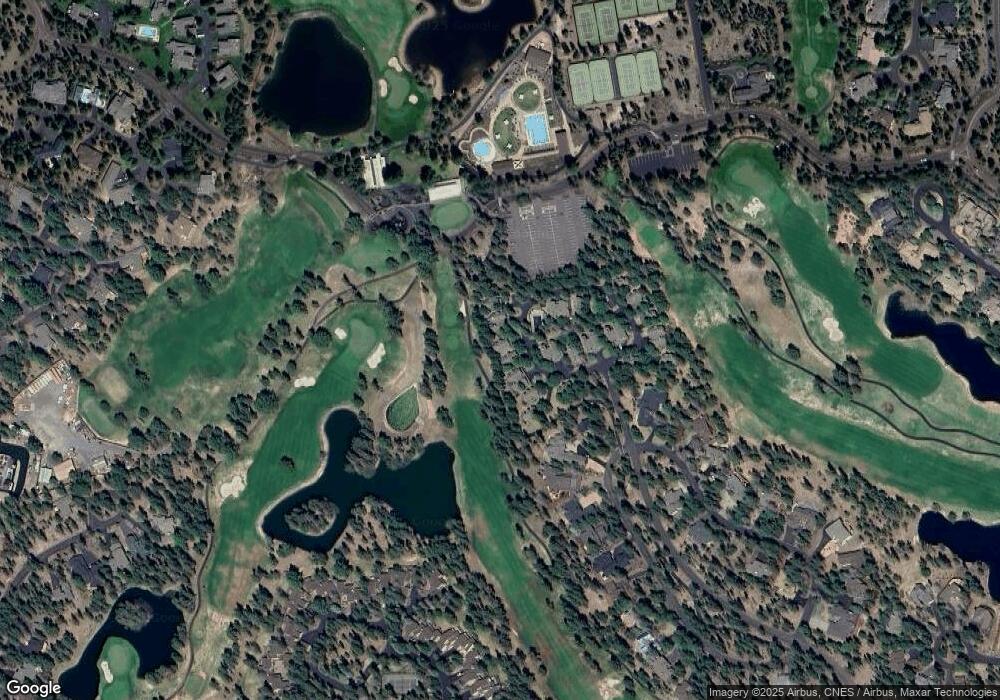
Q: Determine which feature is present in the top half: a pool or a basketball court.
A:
pool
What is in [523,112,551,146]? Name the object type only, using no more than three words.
swimming pool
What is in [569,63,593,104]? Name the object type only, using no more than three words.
tennis court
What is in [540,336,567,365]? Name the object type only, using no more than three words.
house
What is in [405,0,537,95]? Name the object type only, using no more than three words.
pond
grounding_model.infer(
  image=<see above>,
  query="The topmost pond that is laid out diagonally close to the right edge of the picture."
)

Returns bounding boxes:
[886,292,1000,401]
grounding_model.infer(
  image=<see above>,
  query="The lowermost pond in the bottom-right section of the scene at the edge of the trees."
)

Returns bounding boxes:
[916,510,1000,602]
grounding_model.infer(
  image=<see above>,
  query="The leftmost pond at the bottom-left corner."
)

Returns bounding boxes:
[58,587,185,700]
